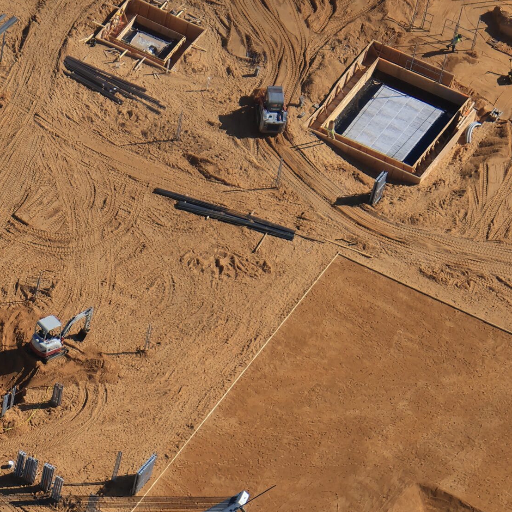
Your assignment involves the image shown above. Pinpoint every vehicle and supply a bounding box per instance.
[255,80,291,133]
[25,304,96,372]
